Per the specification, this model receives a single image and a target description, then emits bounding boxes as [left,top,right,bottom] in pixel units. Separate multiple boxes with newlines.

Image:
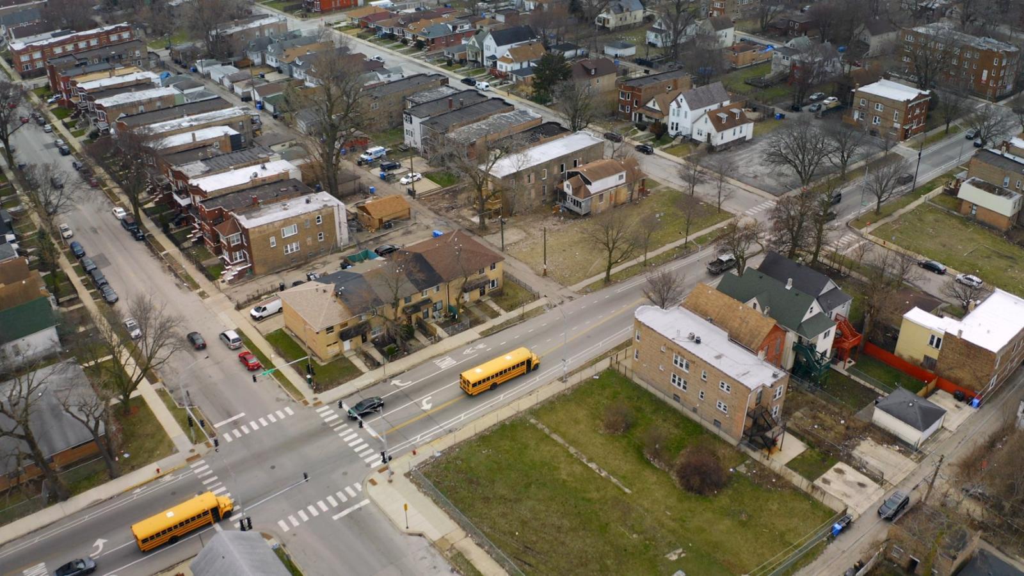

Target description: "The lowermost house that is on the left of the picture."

[181,521,302,576]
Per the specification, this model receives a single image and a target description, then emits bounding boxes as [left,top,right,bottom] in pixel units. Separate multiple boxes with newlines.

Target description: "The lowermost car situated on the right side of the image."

[877,479,911,517]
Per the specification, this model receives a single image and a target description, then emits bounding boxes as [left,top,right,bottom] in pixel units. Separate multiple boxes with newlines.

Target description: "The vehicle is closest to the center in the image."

[461,350,546,403]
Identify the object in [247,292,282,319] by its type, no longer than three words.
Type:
vehicle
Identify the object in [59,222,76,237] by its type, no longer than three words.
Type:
car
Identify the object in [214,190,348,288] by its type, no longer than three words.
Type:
building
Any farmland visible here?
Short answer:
No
